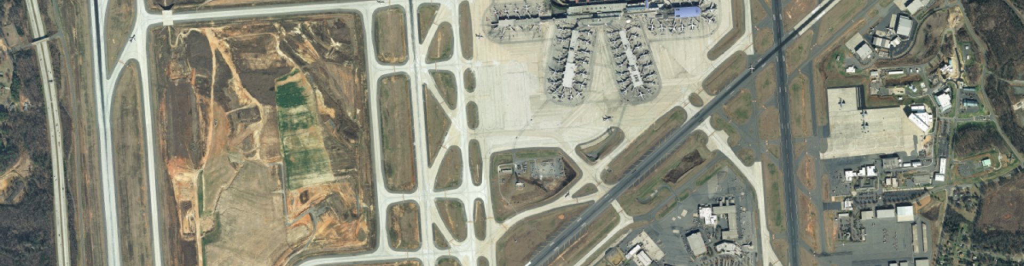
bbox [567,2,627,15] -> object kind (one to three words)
building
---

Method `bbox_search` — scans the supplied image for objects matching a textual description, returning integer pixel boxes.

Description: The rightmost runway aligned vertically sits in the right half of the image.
[770,0,800,266]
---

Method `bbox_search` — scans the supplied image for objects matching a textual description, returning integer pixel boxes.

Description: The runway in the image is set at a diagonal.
[524,0,843,266]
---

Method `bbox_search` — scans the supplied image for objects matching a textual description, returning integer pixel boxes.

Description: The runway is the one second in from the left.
[405,0,433,266]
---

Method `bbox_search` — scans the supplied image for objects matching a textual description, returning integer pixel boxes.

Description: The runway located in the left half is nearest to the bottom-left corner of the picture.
[90,0,120,266]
